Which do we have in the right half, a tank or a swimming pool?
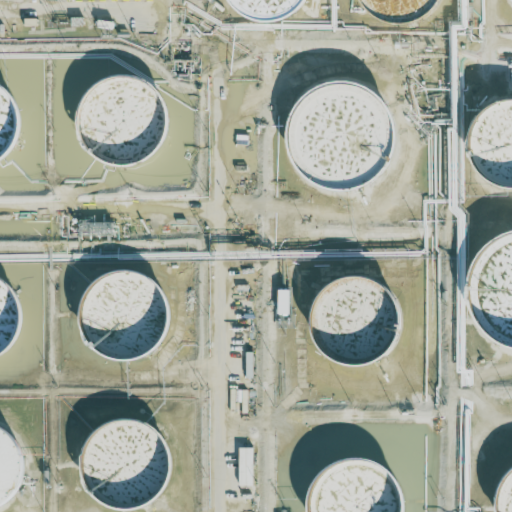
tank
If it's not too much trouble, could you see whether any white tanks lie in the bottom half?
Yes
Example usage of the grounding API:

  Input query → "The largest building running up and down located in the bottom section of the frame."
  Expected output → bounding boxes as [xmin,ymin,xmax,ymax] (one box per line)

[239,448,253,487]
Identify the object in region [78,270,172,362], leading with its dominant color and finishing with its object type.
white storage tank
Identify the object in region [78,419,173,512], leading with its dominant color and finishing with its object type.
white storage tank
